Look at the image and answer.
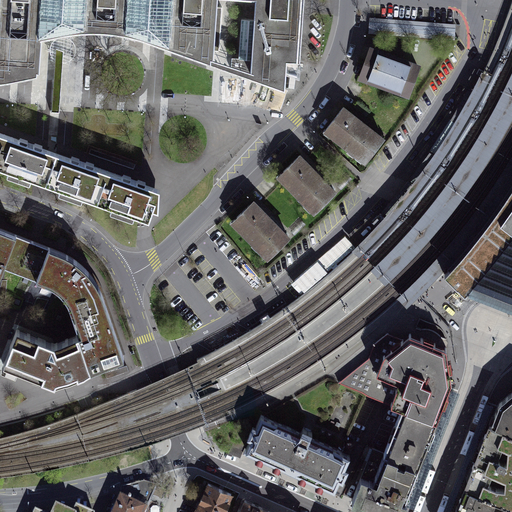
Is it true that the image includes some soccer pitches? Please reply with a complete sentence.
No, there is no soccer pitch in the image.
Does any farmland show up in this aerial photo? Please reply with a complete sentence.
No, there's no farmland in this view.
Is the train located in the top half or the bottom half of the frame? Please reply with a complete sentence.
The train sits in the top half of the picture.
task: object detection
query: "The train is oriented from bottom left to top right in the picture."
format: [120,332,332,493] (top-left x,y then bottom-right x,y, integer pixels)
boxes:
[365,26,512,256]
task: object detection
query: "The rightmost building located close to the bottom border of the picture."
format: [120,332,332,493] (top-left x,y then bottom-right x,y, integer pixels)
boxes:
[456,387,512,512]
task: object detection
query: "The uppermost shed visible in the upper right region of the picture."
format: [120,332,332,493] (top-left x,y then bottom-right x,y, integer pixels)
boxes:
[368,17,456,38]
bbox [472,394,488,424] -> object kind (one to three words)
vehicle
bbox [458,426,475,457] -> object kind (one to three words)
vehicle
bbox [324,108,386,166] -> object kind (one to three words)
house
